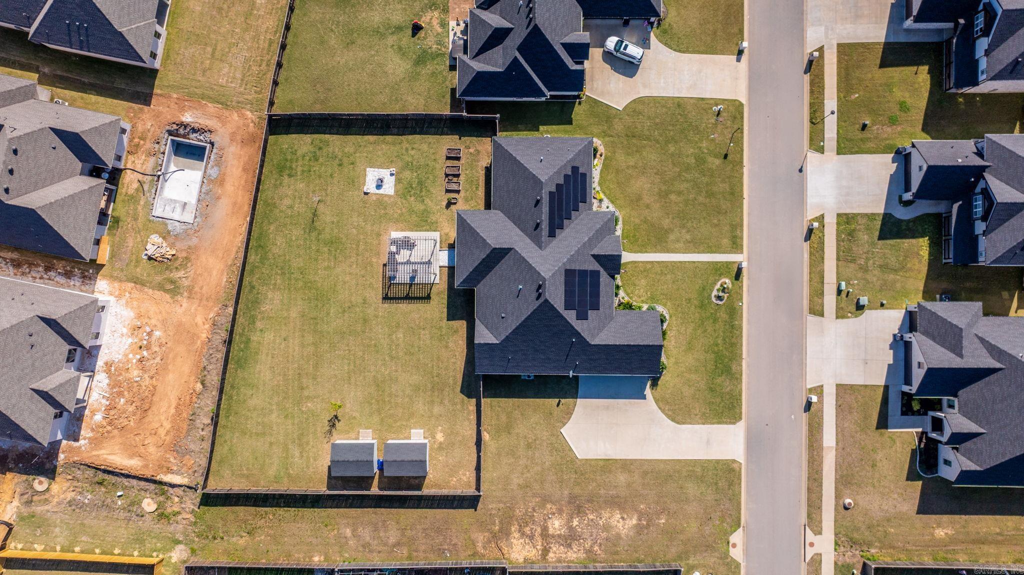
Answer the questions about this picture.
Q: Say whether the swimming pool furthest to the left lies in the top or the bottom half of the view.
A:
top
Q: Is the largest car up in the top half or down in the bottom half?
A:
top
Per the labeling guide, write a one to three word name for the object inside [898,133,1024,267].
house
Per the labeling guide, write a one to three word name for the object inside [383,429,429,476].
shed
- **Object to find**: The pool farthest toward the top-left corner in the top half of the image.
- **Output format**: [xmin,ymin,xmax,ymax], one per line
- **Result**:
[152,137,212,224]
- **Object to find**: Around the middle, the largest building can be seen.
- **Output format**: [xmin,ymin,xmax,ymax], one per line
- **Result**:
[455,136,664,376]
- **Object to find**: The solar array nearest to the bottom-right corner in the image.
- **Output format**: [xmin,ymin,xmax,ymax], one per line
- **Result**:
[565,269,600,320]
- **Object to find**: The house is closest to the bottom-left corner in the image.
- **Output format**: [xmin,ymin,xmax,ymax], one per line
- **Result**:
[0,275,110,447]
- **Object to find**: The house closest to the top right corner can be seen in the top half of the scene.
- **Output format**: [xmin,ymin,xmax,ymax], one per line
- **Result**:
[898,0,1024,92]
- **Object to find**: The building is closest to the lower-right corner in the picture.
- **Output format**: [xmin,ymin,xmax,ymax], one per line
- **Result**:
[897,301,1024,487]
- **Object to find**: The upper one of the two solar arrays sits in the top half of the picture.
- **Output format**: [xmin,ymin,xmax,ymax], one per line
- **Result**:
[549,166,587,237]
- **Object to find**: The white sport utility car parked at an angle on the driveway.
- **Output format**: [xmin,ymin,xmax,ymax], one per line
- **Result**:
[602,37,645,67]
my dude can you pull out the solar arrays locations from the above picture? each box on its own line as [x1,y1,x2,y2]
[549,166,587,237]
[565,269,600,320]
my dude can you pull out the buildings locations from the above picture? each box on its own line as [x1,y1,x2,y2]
[897,301,1024,487]
[0,73,133,263]
[0,275,110,447]
[0,0,173,67]
[455,136,664,376]
[383,429,429,476]
[456,0,663,100]
[329,429,377,476]
[898,0,1024,92]
[898,133,1024,267]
